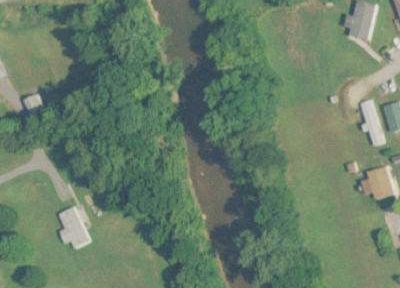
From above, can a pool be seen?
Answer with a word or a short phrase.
No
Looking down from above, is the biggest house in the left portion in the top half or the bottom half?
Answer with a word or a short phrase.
bottom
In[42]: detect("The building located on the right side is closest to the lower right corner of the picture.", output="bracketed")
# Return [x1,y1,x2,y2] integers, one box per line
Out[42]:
[362,166,400,200]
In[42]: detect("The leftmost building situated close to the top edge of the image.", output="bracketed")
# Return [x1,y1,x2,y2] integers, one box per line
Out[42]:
[345,1,378,41]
